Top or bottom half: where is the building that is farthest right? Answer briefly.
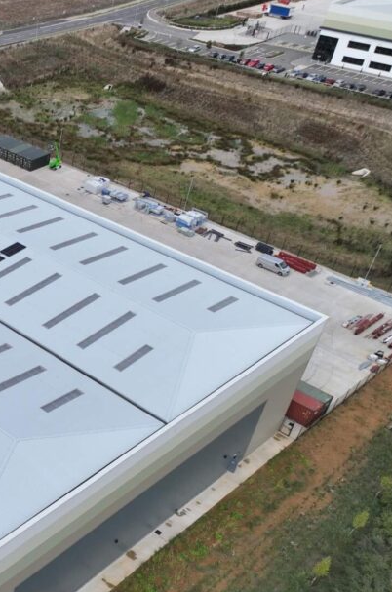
top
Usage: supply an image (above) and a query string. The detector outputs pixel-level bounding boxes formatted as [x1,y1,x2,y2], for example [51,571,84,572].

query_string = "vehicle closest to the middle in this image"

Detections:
[256,253,292,275]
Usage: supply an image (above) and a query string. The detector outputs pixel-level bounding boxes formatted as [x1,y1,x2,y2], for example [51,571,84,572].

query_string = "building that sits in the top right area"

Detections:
[310,0,392,78]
